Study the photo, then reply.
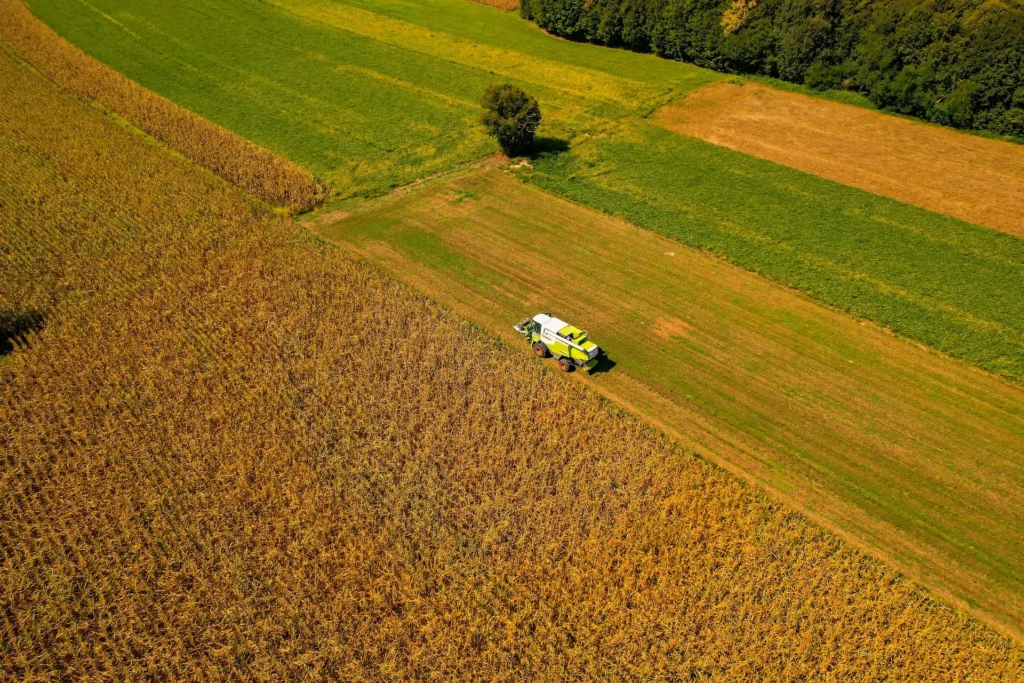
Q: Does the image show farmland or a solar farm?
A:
farmland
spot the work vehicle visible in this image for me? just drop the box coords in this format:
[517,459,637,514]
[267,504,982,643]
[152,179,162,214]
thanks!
[514,313,600,374]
